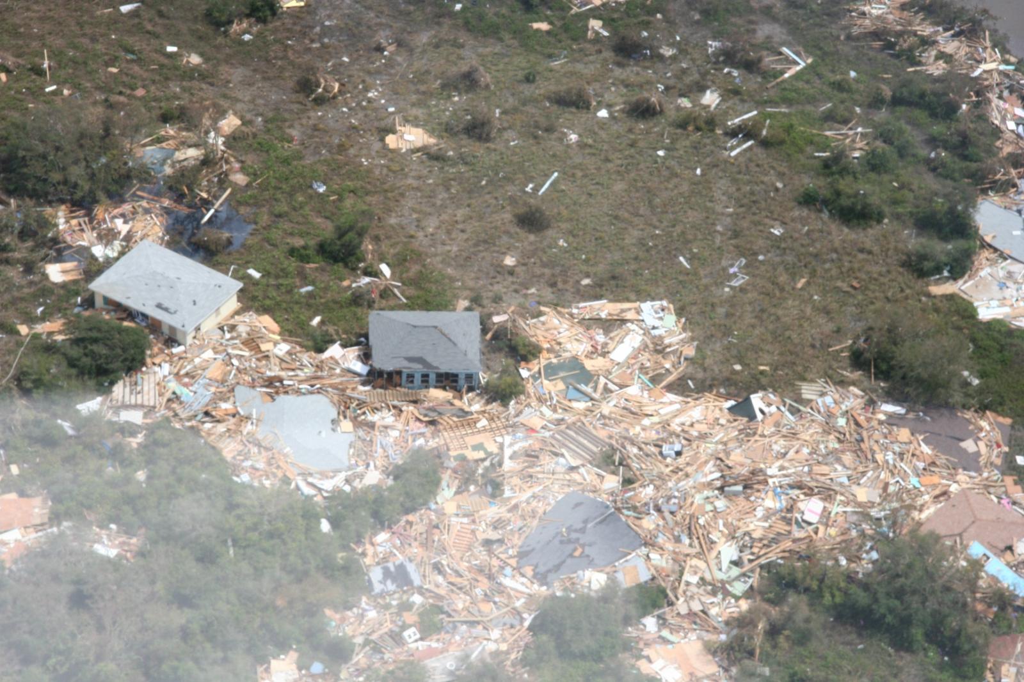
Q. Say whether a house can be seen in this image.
Yes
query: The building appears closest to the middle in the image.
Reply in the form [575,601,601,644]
[366,311,481,391]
